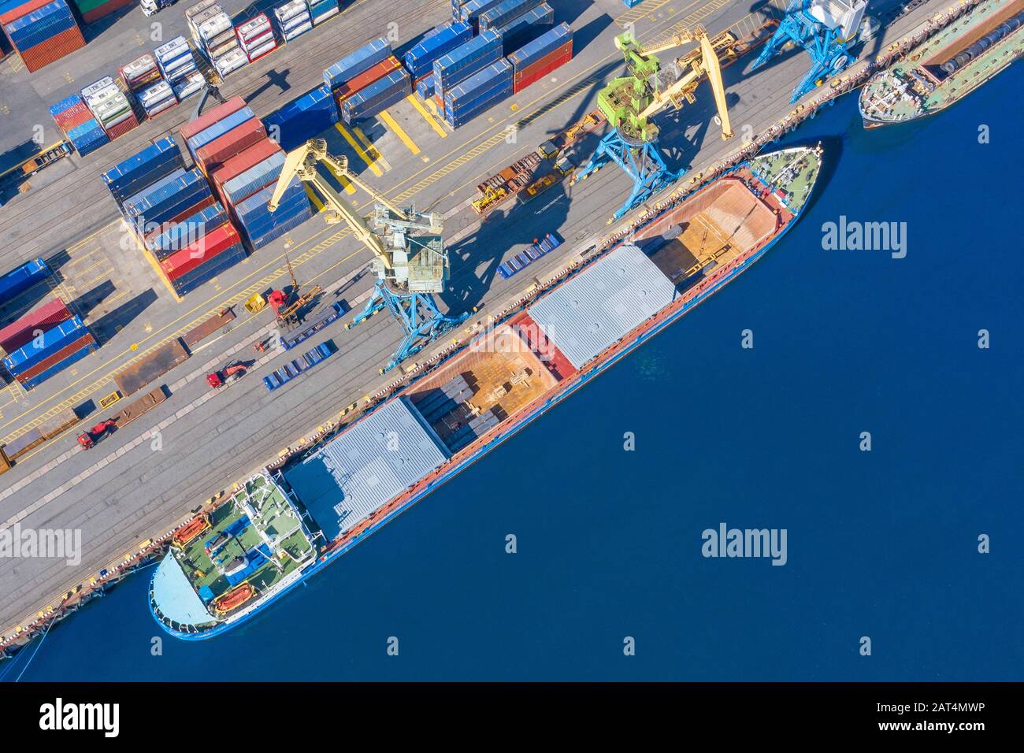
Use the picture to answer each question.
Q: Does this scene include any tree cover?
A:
No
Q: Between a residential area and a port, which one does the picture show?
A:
port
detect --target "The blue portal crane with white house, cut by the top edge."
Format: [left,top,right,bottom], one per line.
[746,0,868,106]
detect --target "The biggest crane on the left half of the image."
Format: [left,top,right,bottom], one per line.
[271,131,479,376]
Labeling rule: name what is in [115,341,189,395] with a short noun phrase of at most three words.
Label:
trailer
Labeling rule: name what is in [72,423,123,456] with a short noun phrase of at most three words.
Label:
truck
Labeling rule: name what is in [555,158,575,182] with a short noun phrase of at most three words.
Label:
vehicle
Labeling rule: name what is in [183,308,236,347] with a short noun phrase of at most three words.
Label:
trailer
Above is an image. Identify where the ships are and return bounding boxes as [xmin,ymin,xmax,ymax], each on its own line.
[859,0,1024,131]
[148,144,823,642]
